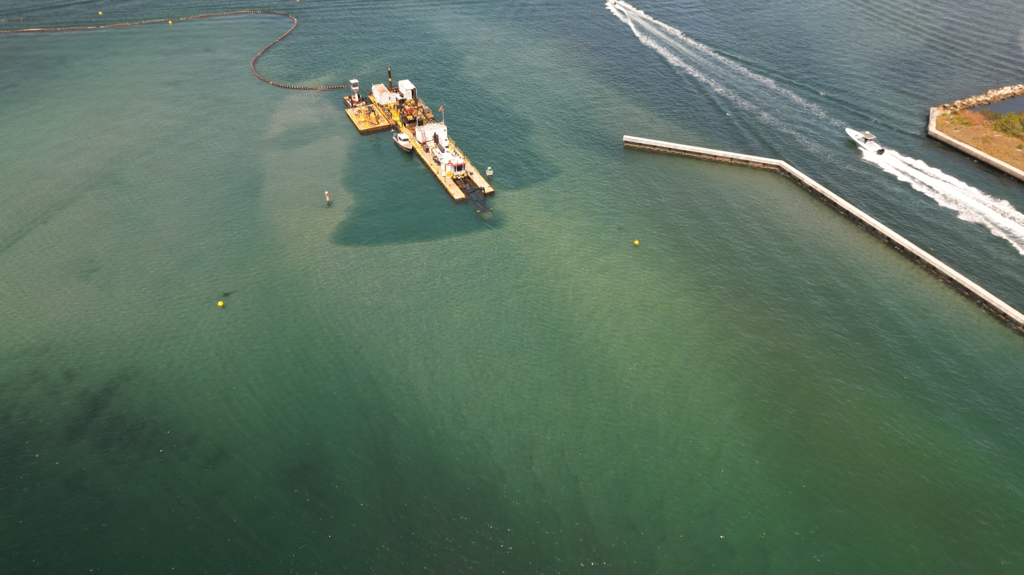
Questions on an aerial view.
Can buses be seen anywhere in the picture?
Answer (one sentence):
No, no bus can be seen from above.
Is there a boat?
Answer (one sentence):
Yes, there's a boat down there.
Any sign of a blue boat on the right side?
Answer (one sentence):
No, no blue boat appears on the right side.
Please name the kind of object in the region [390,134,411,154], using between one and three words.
boat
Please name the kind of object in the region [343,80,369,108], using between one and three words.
boat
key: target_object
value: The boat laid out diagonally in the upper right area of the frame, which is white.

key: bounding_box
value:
[847,121,890,154]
